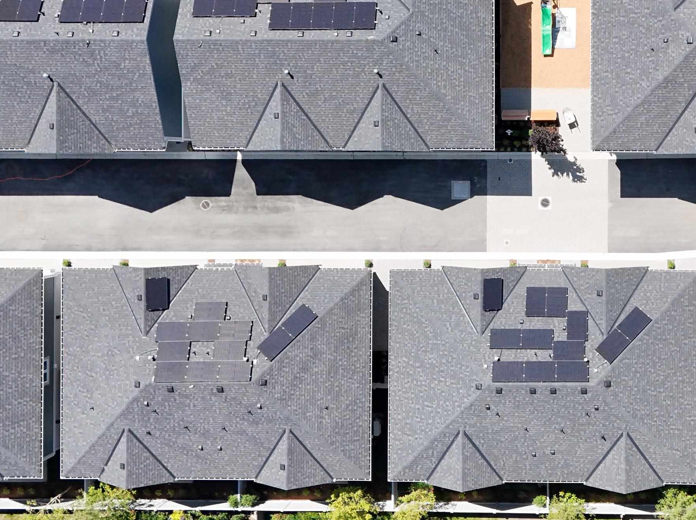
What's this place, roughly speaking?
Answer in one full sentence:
The area seen from above is a residential area.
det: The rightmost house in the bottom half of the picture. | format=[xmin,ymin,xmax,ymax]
[390,262,696,492]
